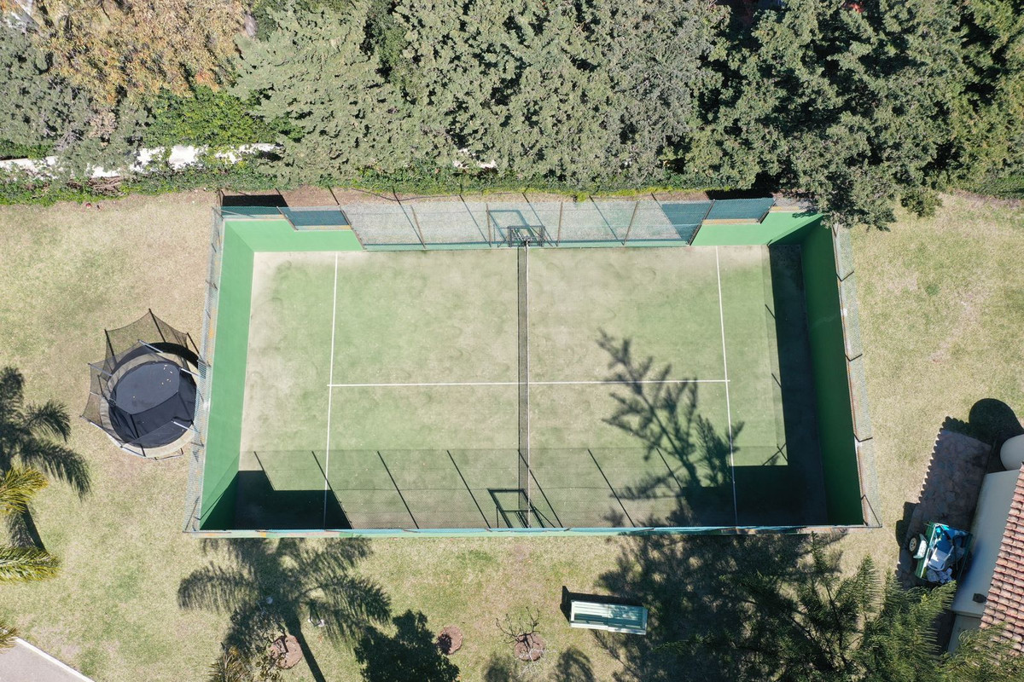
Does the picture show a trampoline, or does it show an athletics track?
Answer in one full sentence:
The image shows a trampoline.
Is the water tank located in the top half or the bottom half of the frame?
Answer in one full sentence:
Seen from above, the water tank lies in the bottom half of the view.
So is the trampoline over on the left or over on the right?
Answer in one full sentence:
The trampoline sits on the left side.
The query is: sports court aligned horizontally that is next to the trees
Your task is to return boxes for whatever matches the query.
[235,244,828,529]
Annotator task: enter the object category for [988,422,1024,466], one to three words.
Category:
water tank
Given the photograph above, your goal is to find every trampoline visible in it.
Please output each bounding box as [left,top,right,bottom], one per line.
[77,339,205,458]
